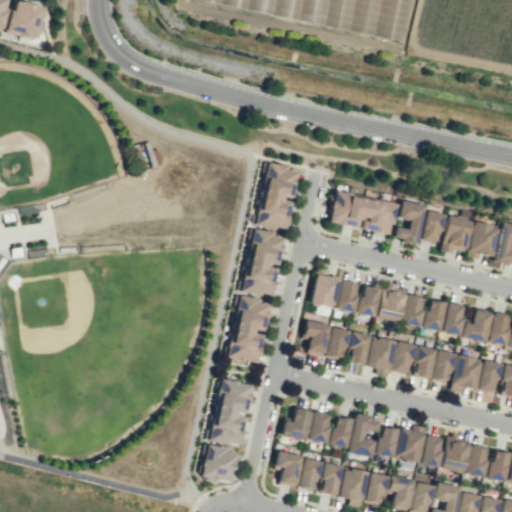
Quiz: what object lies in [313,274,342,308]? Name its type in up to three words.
house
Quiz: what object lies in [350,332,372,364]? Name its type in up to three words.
house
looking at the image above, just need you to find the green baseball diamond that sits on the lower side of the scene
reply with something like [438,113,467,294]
[0,250,204,461]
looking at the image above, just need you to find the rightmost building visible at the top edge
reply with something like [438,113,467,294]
[8,0,49,36]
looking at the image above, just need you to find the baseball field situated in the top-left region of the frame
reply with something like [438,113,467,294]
[0,62,125,210]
